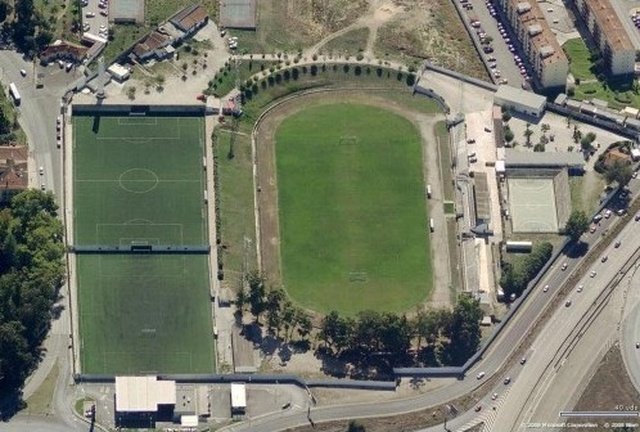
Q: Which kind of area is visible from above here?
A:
sports ground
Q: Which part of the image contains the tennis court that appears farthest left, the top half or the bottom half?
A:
top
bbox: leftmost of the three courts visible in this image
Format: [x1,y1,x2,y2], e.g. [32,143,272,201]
[109,0,145,23]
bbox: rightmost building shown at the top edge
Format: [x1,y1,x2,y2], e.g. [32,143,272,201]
[571,0,634,77]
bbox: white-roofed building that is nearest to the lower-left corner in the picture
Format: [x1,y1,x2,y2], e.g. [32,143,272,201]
[116,376,175,419]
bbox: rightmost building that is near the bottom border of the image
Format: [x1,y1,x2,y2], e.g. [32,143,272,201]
[231,383,246,413]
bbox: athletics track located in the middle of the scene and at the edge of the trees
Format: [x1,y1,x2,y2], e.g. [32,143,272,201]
[253,90,453,336]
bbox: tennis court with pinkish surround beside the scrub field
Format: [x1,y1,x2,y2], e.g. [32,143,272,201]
[220,0,256,29]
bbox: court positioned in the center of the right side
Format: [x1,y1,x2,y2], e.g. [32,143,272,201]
[508,179,559,233]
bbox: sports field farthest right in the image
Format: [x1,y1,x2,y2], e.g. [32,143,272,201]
[275,103,433,321]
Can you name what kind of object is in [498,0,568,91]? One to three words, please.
building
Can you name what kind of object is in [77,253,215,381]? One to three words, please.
soccer field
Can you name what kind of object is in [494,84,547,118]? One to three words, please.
building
